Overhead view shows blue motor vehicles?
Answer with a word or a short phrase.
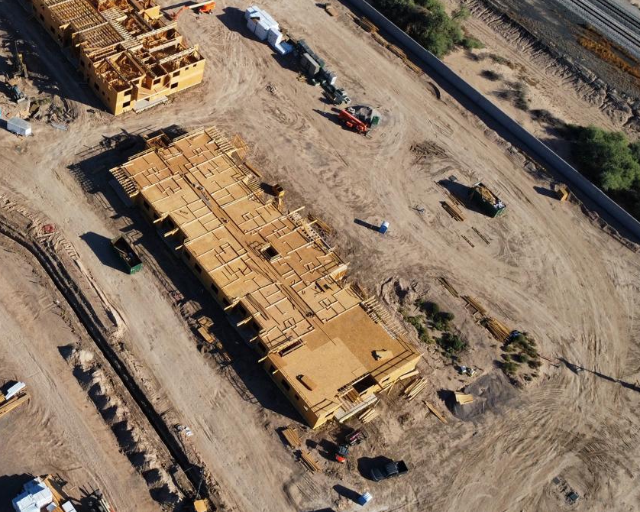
No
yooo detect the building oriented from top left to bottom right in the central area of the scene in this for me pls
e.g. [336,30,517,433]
[111,125,424,427]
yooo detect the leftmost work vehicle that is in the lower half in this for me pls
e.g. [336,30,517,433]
[81,465,112,512]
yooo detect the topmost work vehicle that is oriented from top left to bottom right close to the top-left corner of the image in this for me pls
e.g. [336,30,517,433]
[1,69,29,101]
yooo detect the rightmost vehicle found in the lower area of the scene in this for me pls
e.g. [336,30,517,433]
[368,458,412,486]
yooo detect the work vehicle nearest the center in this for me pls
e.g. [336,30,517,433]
[340,110,379,140]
